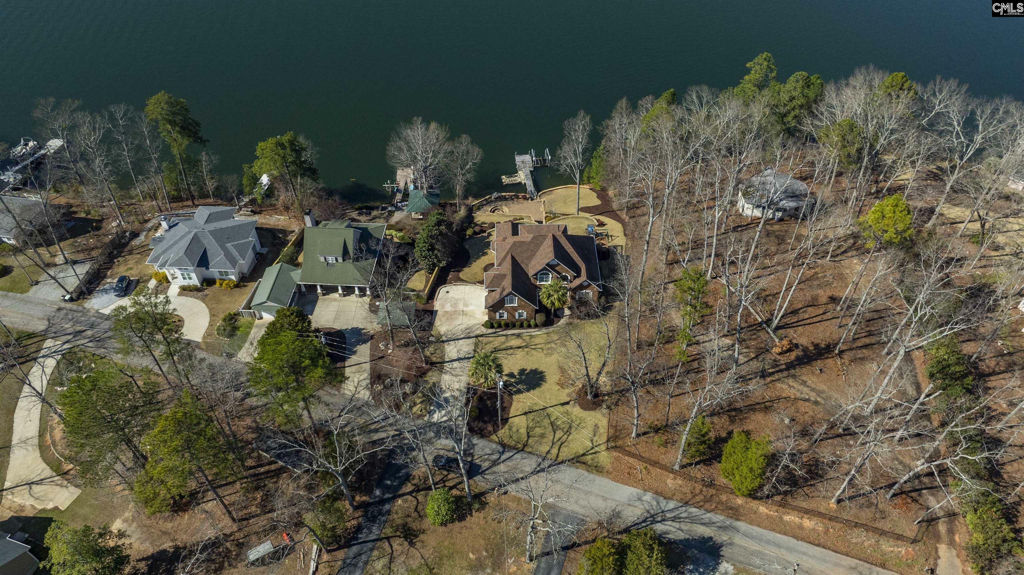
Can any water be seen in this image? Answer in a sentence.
Yes, water can be seen from above here.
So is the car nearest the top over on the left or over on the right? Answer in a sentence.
You can find the car nearest the top on the left side of the picture.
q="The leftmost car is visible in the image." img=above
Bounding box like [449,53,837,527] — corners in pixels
[110,272,139,295]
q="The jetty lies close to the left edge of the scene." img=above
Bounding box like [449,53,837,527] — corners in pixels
[1,139,72,183]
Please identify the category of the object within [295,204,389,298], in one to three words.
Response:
building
